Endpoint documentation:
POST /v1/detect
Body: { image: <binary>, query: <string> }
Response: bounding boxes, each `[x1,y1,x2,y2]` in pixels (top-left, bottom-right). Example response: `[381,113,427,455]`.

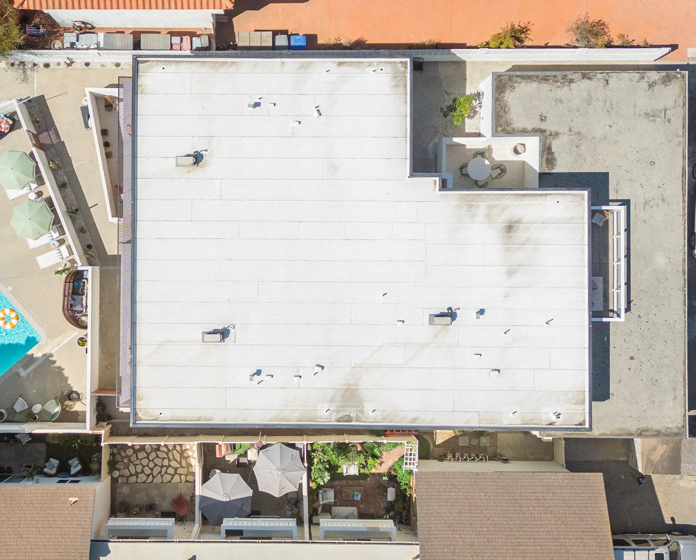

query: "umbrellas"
[253,442,302,497]
[253,440,264,450]
[11,195,54,240]
[200,472,254,523]
[0,147,37,191]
